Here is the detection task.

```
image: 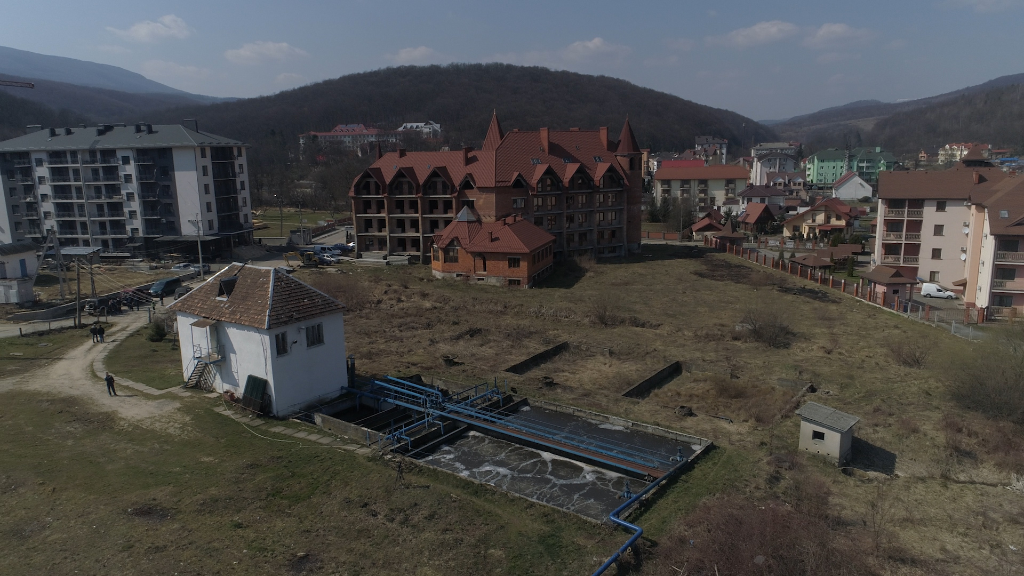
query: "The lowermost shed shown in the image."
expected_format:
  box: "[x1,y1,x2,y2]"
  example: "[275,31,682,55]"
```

[790,398,870,466]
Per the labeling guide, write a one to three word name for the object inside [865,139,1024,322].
house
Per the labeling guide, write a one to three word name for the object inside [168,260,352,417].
building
